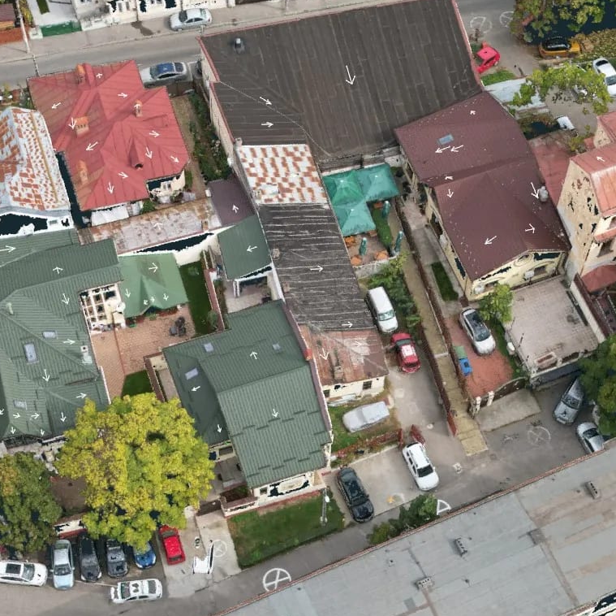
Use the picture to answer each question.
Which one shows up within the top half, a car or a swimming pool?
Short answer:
car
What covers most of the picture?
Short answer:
buildings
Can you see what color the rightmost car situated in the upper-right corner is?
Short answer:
white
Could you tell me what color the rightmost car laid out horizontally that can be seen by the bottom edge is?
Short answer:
white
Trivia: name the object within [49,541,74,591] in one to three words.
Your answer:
car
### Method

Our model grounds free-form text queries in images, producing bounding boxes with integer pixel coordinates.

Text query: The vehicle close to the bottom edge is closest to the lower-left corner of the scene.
[0,560,47,588]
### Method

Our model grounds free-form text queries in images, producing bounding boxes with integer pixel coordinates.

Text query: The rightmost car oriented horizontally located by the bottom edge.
[110,579,162,605]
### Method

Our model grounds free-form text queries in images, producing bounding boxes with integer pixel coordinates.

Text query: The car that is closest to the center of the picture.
[367,286,397,333]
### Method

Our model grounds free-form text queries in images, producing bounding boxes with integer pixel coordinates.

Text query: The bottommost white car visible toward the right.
[404,443,436,493]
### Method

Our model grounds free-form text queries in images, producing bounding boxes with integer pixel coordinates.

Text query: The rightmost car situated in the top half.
[592,61,616,96]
